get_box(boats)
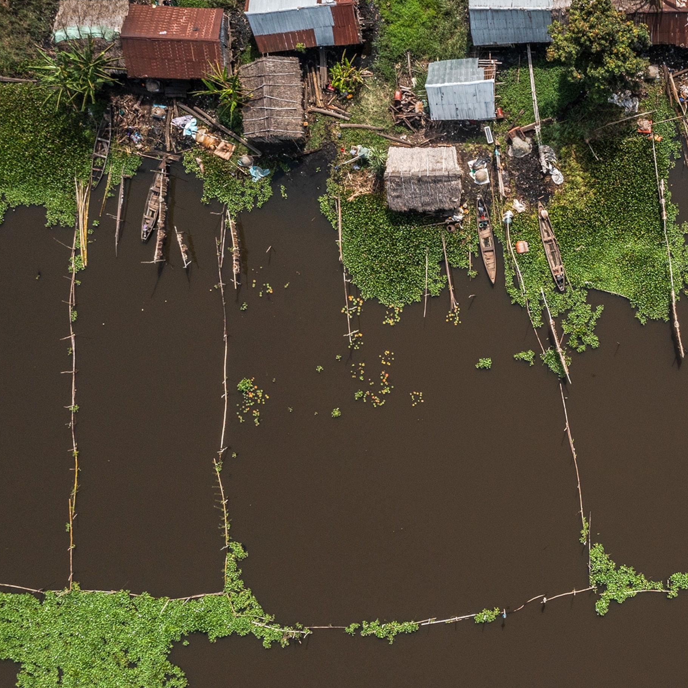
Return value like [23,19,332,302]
[90,104,112,190]
[539,201,565,291]
[141,159,165,241]
[476,195,496,284]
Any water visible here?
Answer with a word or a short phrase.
Yes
